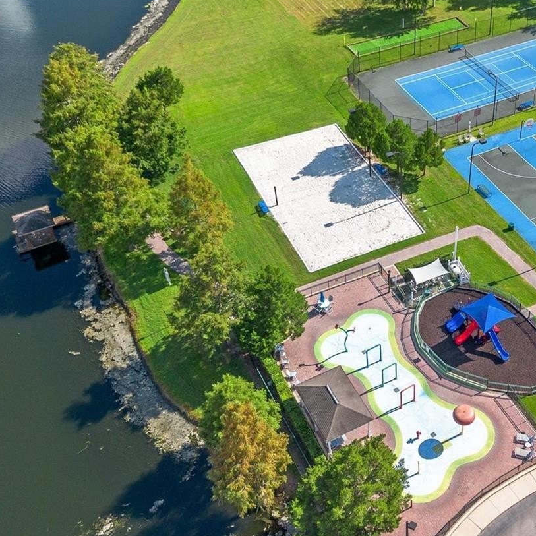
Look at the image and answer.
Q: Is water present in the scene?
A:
Yes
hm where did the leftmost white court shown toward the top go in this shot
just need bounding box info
[233,122,426,275]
